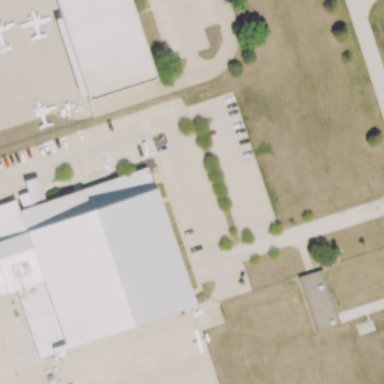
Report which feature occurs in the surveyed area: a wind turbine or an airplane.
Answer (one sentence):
There is an airplane in the scene.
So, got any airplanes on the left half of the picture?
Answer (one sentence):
Yes, you'll find an airplane on the left half of the picture.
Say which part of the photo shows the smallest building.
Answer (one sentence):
The smallest building is located in the bottom right region of the scene.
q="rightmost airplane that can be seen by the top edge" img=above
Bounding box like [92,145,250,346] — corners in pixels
[20,10,51,38]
